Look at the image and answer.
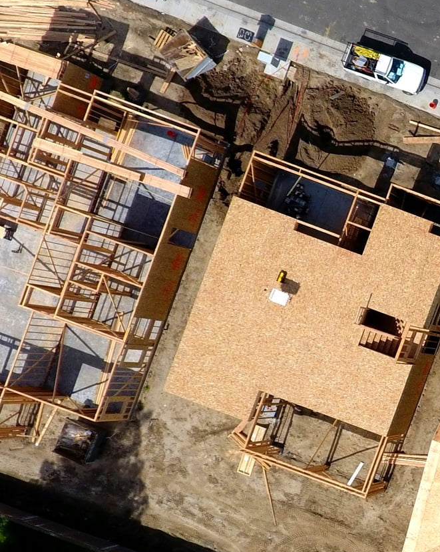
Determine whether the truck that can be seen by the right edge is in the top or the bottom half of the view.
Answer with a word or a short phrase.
top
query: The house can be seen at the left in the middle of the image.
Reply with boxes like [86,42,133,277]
[0,24,230,446]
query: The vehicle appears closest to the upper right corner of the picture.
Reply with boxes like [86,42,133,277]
[332,36,430,98]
